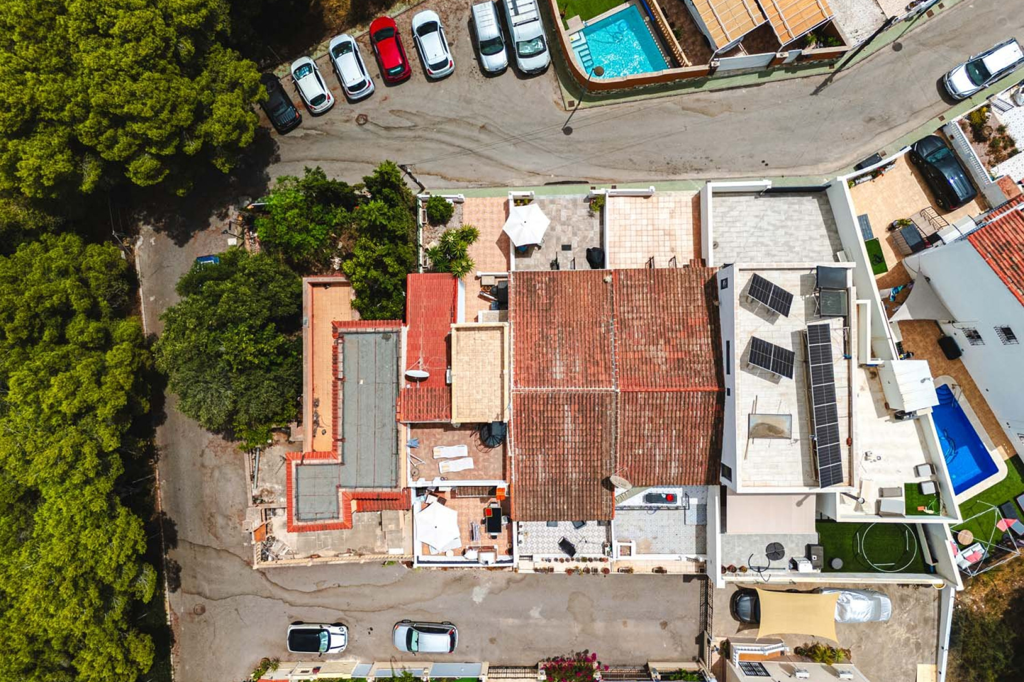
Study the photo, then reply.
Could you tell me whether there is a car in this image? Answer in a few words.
Yes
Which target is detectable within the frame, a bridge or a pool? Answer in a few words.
pool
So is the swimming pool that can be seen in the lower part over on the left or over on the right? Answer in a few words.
right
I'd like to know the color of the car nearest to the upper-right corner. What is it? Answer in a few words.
white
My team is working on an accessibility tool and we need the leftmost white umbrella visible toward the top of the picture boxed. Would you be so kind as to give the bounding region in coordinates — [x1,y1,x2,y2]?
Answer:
[503,204,550,247]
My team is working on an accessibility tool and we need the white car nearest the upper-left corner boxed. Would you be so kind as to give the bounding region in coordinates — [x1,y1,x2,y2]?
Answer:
[290,55,336,118]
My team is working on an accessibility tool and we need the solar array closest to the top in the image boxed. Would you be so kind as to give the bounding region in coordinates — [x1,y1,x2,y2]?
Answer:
[743,273,794,317]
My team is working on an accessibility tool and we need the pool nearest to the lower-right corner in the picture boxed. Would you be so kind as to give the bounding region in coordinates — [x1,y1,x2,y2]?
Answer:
[927,384,998,496]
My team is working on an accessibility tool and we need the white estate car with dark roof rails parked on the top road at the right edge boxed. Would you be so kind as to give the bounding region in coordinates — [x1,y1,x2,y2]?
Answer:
[947,37,1024,100]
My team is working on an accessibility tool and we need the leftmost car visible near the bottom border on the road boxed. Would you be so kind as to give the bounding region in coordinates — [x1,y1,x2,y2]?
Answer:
[287,619,349,658]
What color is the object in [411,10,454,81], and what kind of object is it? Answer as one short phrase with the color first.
white car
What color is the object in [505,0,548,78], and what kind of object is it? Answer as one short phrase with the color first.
white van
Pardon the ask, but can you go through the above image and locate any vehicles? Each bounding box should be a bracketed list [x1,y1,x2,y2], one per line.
[947,37,1024,100]
[411,10,454,81]
[907,134,975,211]
[393,618,458,657]
[369,16,412,85]
[329,33,376,103]
[257,70,308,139]
[287,619,349,658]
[505,0,548,78]
[290,55,336,118]
[471,0,509,78]
[730,589,760,626]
